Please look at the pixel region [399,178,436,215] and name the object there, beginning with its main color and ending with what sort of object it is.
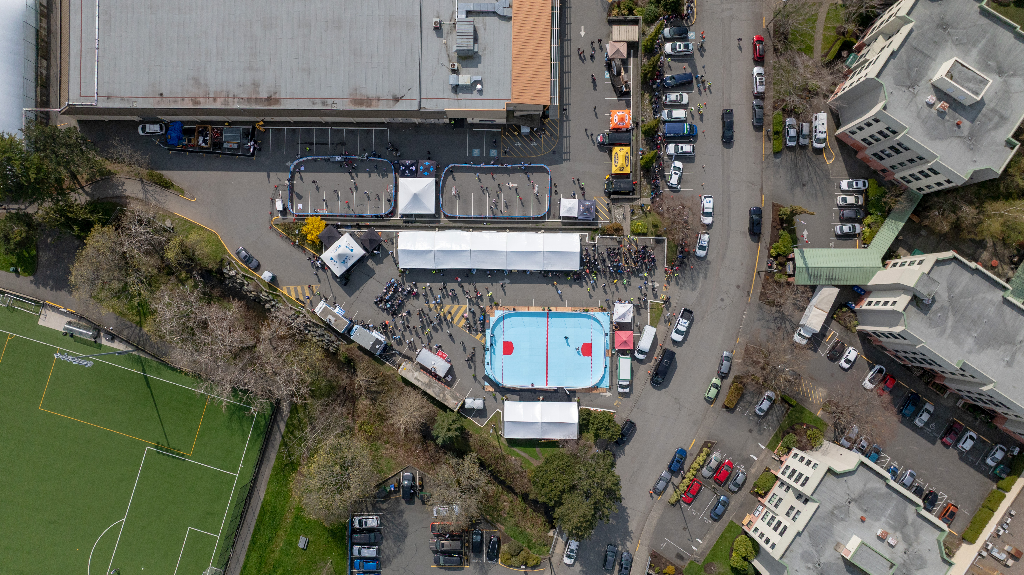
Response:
white tent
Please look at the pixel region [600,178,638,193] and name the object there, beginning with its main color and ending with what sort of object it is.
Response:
black vehicle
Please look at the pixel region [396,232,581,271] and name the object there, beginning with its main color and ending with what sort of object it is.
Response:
white tent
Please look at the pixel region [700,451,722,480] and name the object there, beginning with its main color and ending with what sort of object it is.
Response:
gray car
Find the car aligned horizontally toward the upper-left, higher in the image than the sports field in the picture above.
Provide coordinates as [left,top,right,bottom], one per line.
[138,122,166,136]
